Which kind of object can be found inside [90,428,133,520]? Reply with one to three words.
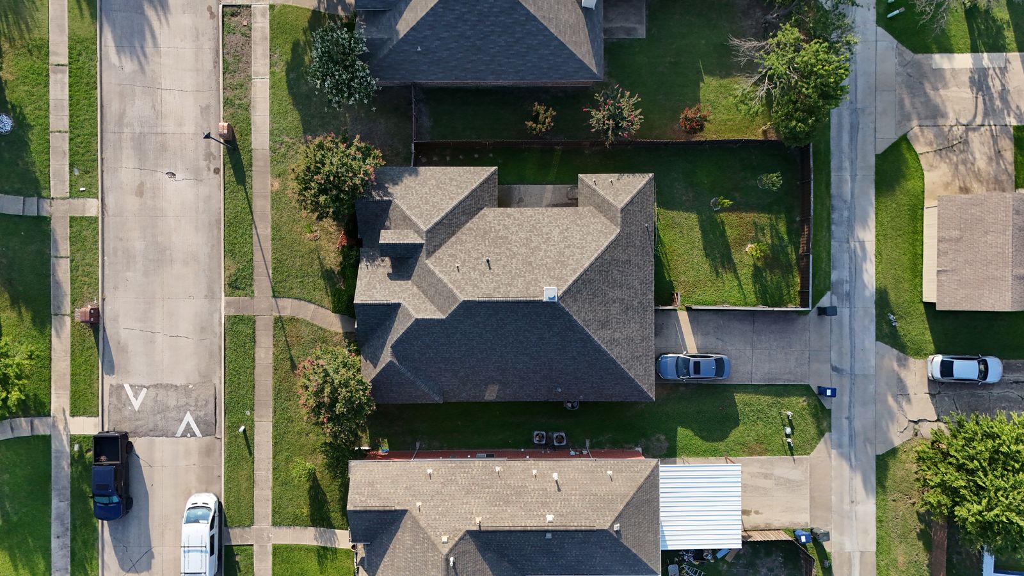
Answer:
truck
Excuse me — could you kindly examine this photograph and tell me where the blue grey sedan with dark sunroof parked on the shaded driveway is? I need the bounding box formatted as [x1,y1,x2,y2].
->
[655,351,730,385]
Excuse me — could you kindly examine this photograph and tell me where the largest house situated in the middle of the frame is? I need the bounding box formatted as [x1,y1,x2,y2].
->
[355,166,656,404]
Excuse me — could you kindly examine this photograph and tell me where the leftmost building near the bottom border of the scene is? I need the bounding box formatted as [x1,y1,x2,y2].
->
[347,443,662,576]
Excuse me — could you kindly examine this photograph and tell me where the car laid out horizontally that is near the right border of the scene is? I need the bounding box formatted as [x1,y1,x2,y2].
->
[927,352,1004,386]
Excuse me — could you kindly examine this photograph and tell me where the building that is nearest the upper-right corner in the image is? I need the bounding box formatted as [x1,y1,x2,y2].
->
[922,191,1024,311]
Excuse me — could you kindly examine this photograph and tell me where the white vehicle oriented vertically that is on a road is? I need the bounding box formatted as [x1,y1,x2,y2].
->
[181,489,222,576]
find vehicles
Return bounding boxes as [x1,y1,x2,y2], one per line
[181,489,222,576]
[927,352,1004,386]
[655,351,730,385]
[90,428,133,520]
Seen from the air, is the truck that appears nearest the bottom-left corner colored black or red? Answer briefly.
black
